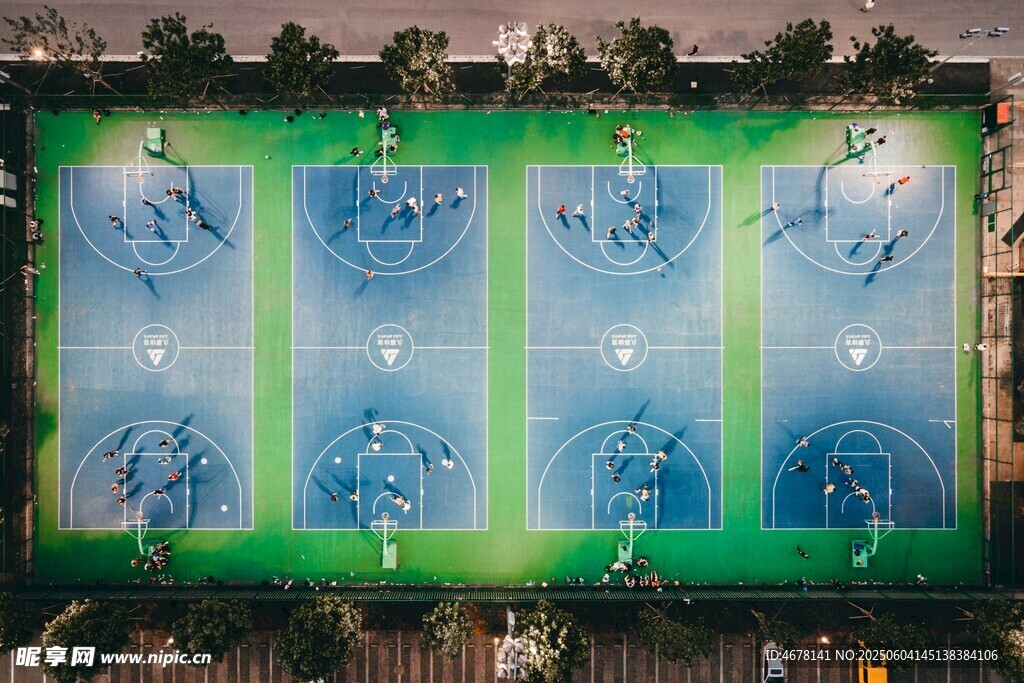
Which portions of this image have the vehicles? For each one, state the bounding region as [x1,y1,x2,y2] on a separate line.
[759,644,788,683]
[861,639,893,683]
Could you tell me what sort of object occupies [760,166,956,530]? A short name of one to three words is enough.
basketball court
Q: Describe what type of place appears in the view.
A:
sports ground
